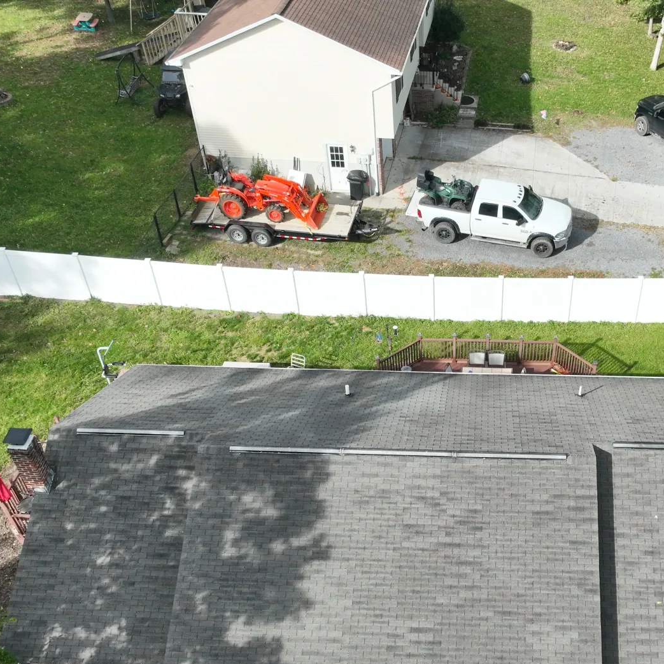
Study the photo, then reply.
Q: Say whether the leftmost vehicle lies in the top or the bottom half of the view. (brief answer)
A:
top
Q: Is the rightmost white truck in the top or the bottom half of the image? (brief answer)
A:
top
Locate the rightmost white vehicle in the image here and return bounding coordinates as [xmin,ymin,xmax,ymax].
[410,183,579,258]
